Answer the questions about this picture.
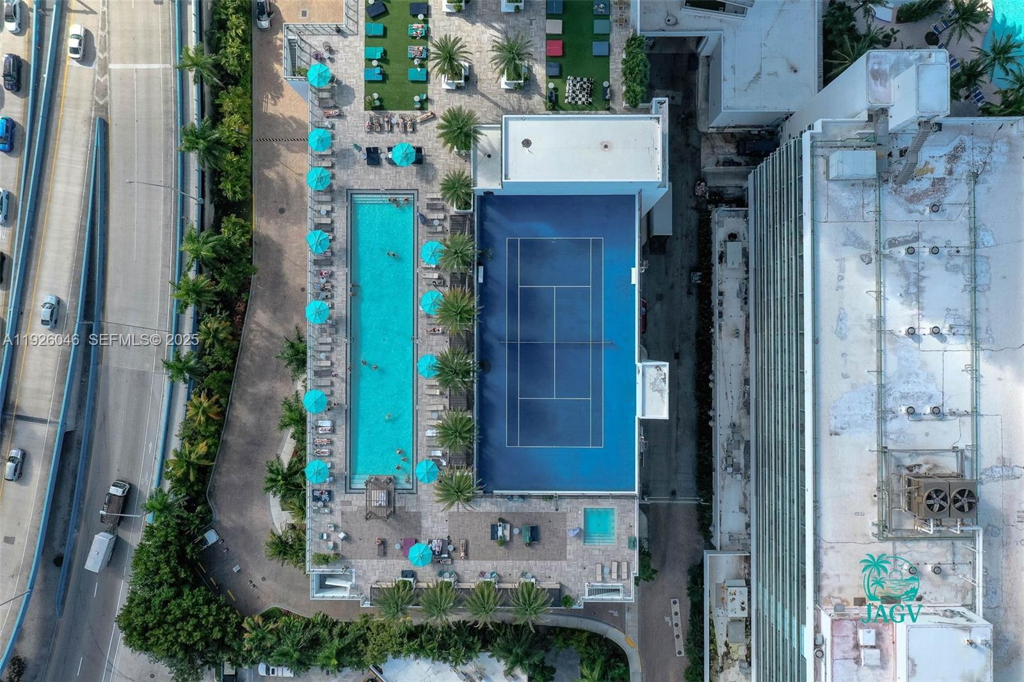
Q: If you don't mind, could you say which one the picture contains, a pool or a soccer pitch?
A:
pool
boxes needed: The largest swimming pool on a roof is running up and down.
[346,190,418,494]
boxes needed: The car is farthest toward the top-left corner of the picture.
[2,0,23,33]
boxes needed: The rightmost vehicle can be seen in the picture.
[737,132,781,153]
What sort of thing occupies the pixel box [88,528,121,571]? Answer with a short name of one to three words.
trailer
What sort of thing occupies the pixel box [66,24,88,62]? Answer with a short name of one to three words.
car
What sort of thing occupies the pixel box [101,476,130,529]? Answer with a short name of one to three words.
truck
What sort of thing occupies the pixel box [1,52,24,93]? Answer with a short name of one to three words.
car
